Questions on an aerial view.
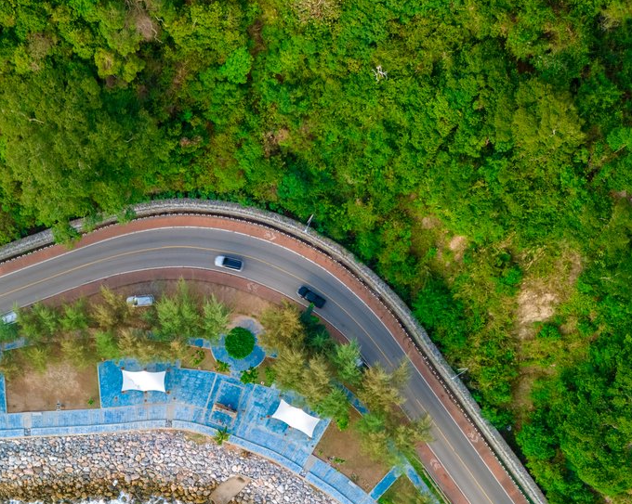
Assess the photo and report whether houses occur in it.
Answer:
No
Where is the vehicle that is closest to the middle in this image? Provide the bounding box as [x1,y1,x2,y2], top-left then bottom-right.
[296,285,327,310]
